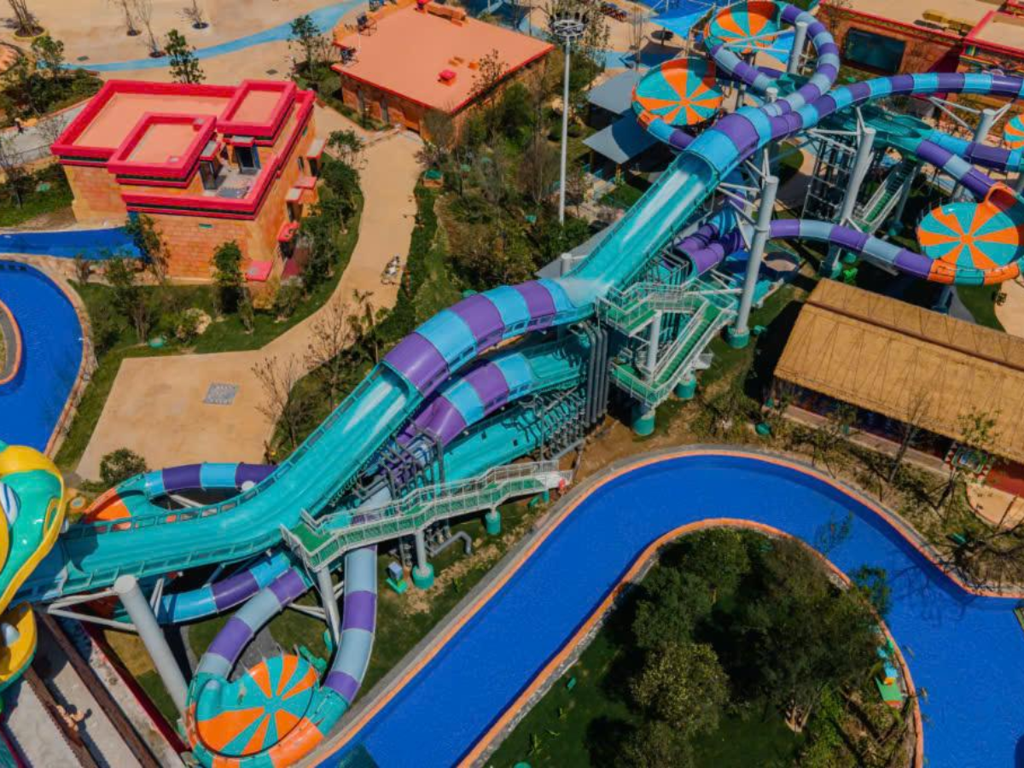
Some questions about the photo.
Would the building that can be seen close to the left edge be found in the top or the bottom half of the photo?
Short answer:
top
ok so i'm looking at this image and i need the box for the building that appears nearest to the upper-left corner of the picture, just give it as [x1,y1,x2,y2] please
[45,80,332,295]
